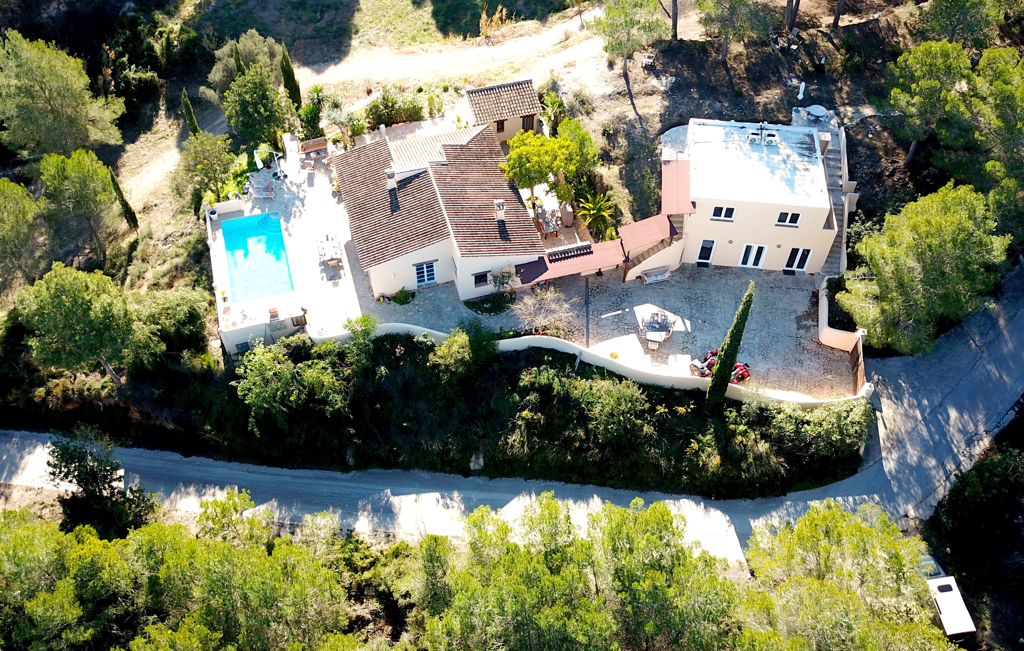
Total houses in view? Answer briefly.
2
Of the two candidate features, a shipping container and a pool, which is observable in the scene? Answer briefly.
pool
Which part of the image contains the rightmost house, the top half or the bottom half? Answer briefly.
top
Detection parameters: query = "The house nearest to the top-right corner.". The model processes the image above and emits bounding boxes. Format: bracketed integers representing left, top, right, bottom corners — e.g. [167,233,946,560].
[682,118,837,275]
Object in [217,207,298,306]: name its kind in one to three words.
swimming pool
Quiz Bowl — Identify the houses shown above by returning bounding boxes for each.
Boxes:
[333,123,547,301]
[682,118,837,275]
